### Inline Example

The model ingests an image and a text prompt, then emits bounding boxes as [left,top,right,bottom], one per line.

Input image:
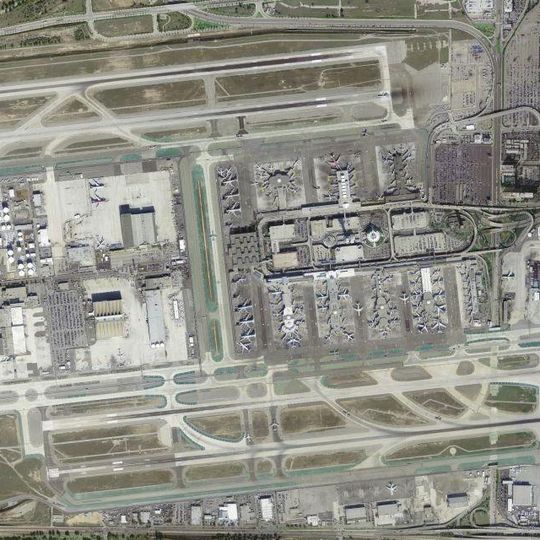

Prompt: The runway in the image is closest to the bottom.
[48,412,540,481]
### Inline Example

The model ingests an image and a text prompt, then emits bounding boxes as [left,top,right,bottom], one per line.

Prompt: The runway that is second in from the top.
[0,86,390,146]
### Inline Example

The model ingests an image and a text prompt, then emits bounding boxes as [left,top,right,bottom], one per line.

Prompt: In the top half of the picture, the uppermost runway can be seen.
[0,42,386,100]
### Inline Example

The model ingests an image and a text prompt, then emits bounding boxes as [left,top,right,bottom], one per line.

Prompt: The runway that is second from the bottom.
[41,364,540,433]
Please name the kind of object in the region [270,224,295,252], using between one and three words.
building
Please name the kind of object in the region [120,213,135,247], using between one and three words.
hangar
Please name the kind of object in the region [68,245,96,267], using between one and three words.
building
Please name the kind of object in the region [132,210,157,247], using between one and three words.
hangar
